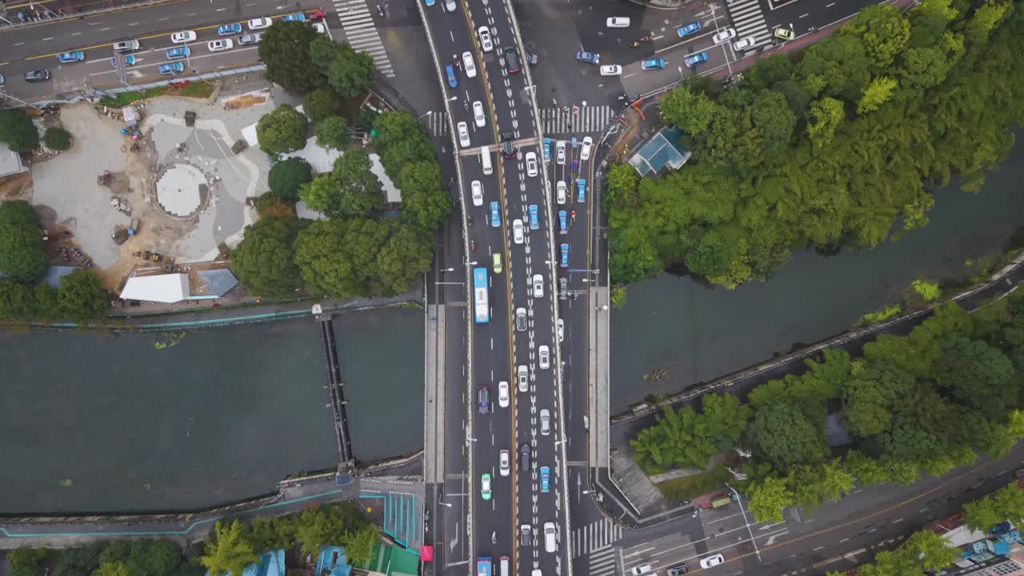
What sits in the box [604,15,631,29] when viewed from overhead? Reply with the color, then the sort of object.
white vehicle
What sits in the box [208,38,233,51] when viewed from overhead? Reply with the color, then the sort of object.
white vehicle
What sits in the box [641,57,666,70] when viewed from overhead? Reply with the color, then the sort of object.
blue vehicle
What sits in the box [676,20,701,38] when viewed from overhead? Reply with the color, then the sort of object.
blue car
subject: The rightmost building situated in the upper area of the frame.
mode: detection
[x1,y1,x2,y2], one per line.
[628,126,690,177]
